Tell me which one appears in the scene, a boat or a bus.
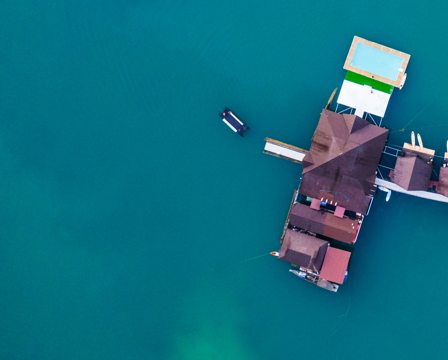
boat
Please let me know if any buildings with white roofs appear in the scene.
No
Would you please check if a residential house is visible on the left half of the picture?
No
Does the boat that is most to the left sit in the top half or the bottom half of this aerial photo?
top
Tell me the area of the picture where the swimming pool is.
top right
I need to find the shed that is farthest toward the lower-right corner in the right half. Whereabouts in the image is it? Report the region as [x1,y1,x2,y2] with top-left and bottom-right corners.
[320,246,351,284]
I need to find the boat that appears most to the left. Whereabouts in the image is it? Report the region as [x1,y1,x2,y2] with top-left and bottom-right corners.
[218,106,250,137]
